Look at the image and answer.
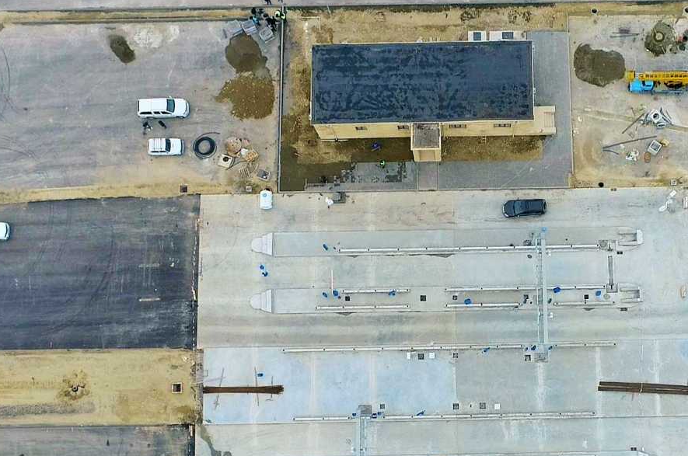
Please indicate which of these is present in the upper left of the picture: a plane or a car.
car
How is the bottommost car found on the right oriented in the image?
from left to right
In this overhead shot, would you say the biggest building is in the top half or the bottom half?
top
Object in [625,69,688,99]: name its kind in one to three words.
truck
